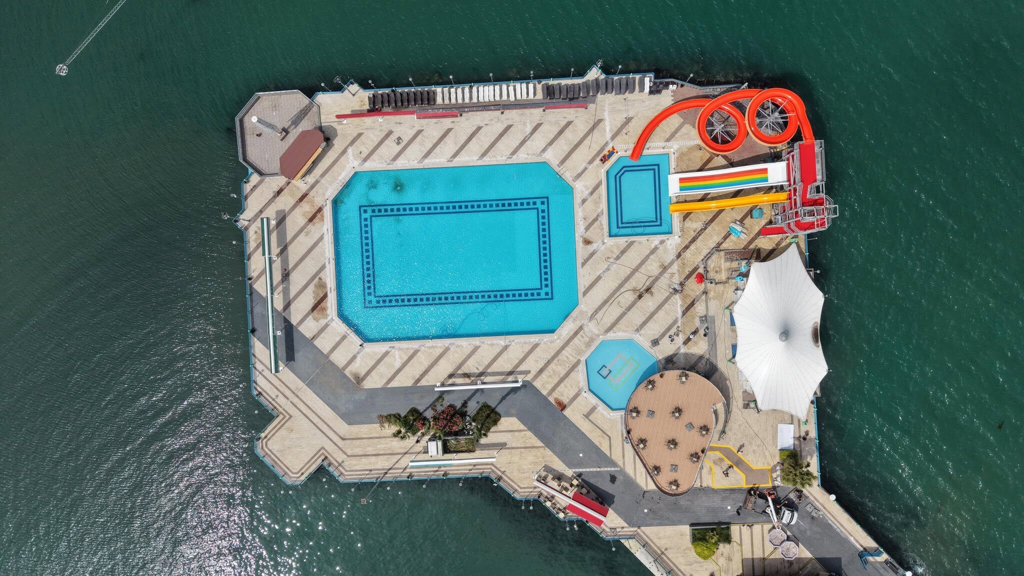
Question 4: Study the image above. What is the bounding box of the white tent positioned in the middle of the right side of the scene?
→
[728,240,828,425]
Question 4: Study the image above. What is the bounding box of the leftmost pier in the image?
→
[622,541,668,576]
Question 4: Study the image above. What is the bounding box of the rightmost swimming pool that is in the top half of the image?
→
[601,148,677,242]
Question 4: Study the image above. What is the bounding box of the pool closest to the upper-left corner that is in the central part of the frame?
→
[325,155,585,349]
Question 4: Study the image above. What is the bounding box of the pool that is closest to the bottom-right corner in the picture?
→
[579,332,664,417]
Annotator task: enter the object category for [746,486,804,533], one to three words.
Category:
truck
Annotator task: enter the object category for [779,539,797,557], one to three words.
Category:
umbrella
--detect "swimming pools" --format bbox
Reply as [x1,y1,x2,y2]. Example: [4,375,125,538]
[601,148,677,242]
[325,155,585,349]
[579,332,664,417]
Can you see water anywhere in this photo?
Yes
